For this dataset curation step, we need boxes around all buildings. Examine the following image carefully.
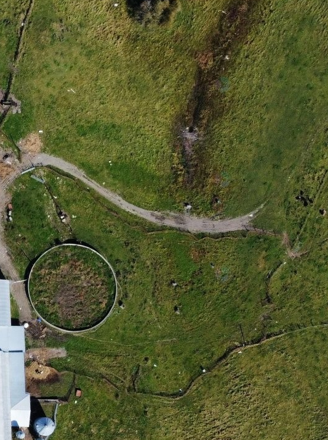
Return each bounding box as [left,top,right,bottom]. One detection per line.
[0,349,30,440]
[0,279,10,328]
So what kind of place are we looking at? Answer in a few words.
farmland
